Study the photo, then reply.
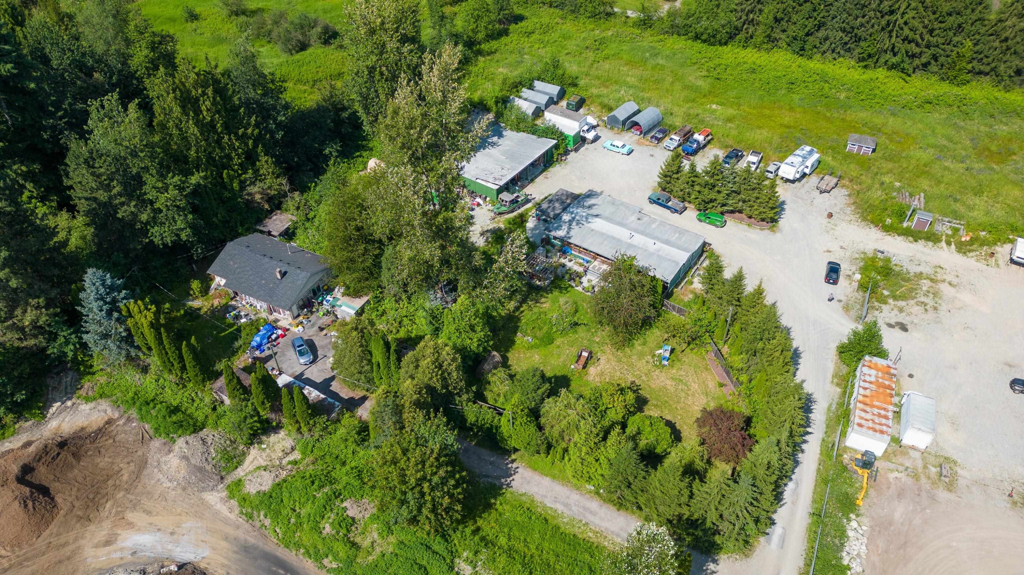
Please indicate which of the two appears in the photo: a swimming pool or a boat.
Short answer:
boat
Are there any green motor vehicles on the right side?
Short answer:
Yes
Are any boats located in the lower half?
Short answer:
No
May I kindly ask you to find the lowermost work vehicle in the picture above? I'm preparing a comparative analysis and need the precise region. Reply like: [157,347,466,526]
[850,452,881,503]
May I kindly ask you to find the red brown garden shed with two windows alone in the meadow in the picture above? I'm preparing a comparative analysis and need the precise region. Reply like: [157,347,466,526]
[845,134,878,158]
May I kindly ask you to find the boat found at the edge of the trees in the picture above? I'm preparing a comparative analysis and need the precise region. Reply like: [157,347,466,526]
[492,189,534,216]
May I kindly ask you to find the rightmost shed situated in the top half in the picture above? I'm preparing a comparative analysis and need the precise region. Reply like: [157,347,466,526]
[911,210,934,231]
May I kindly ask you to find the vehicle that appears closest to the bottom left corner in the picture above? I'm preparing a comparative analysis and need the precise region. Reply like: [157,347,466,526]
[291,336,313,368]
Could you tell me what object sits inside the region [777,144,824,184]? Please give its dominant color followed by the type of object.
white vehicle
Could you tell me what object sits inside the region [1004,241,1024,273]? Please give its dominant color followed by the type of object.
white camper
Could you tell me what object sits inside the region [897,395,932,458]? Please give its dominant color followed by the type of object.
white truck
